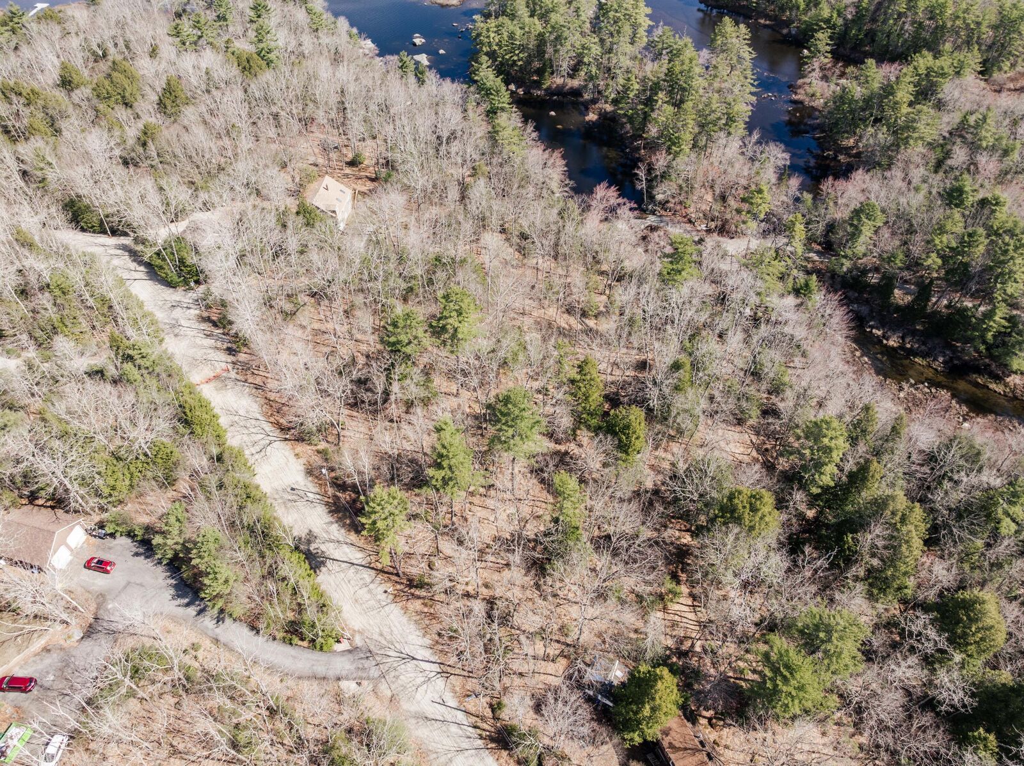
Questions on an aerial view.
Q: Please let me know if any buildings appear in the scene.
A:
Yes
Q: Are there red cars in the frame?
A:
Yes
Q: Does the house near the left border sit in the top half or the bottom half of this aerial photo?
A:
bottom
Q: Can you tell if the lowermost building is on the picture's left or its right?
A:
right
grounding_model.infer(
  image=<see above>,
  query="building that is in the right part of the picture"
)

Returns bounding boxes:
[651,703,725,766]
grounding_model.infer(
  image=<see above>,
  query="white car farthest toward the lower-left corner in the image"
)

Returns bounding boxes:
[37,732,70,766]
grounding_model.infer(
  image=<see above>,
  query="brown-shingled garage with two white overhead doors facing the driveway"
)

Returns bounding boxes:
[0,497,88,577]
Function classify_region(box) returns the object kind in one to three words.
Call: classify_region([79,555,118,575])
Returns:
car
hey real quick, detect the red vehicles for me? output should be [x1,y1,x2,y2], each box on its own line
[0,674,39,695]
[79,555,118,575]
